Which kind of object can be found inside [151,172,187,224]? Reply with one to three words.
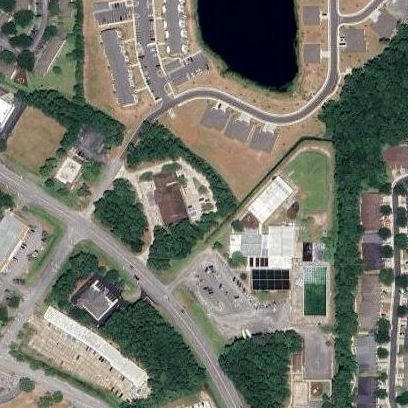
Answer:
building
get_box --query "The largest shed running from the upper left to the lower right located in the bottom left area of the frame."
[44,306,147,388]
